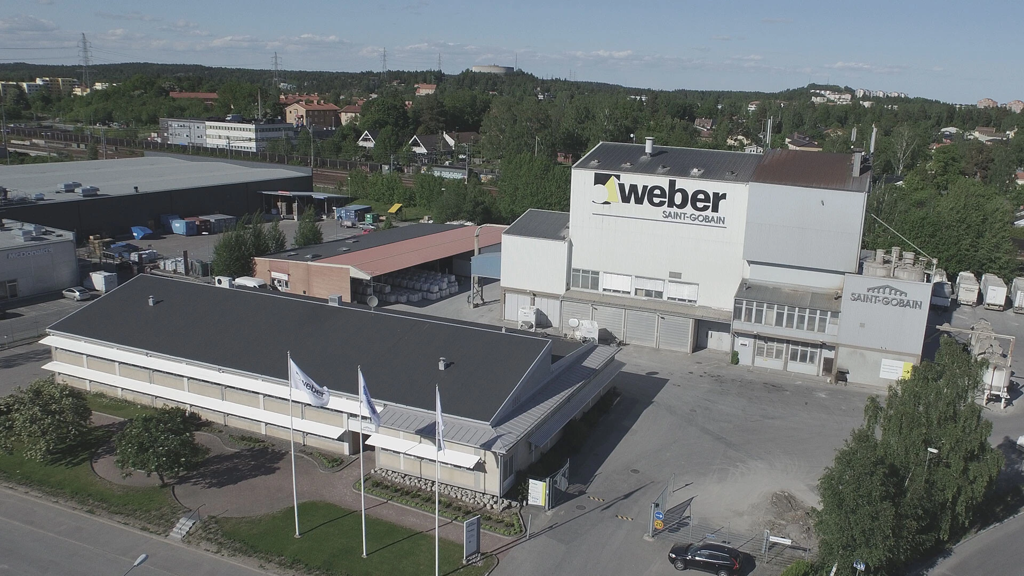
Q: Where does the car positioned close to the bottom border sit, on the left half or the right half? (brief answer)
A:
right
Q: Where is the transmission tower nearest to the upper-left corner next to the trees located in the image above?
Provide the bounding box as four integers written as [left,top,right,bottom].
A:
[73,33,96,95]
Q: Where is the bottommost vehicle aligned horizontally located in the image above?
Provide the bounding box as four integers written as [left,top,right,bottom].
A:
[665,536,745,576]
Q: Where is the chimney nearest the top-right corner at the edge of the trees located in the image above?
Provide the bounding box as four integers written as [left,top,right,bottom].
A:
[854,146,870,170]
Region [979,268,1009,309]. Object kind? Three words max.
truck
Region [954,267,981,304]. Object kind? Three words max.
truck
